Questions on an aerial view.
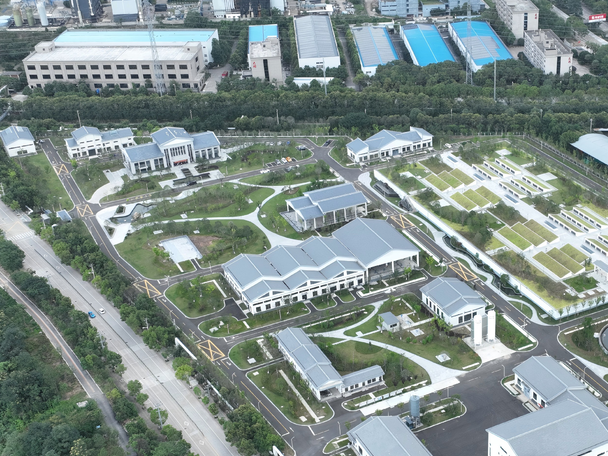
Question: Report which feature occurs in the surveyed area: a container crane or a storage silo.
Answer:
storage silo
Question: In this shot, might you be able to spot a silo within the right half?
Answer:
Yes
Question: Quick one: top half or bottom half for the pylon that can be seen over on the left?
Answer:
top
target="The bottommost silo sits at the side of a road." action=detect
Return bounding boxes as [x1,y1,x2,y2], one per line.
[399,384,427,432]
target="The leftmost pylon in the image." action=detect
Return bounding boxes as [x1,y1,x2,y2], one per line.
[138,0,168,85]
